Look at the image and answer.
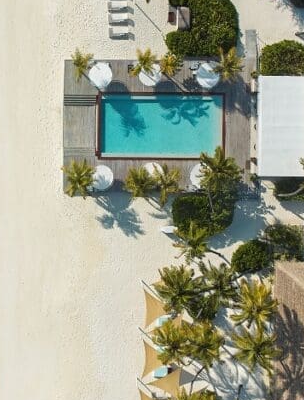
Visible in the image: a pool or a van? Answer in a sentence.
Of the two, only a pool appears.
